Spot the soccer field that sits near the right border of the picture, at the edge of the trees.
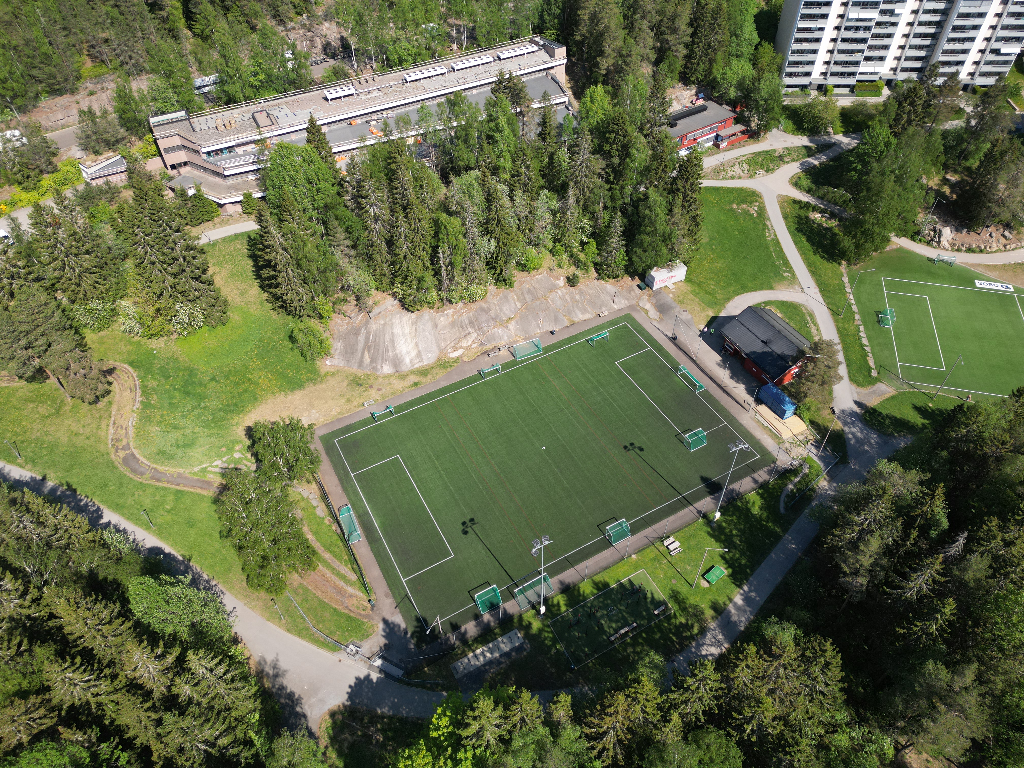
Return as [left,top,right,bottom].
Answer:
[848,247,1024,406]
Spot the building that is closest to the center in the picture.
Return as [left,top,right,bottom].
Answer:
[649,264,687,292]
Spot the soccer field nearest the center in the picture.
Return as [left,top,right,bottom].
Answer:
[319,313,777,650]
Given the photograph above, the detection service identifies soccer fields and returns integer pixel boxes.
[319,313,777,650]
[848,247,1024,406]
